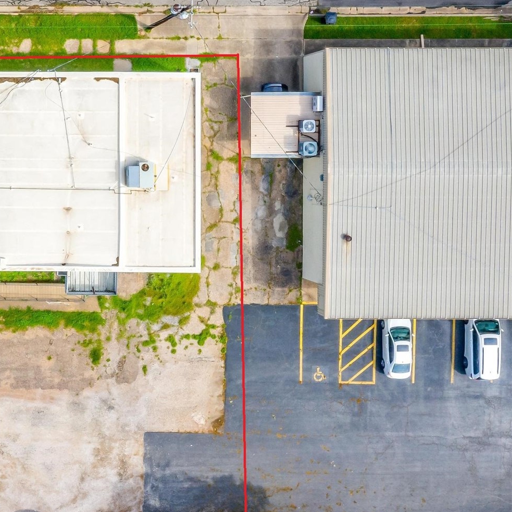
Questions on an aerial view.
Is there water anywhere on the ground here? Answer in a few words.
No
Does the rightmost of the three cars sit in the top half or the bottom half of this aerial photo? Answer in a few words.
bottom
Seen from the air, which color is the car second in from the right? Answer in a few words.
white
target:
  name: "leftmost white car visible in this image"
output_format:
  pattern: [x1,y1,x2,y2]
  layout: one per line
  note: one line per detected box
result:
[379,321,417,379]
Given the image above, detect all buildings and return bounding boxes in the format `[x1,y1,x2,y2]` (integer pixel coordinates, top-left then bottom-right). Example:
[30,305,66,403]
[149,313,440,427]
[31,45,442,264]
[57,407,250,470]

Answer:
[0,67,200,296]
[305,39,512,321]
